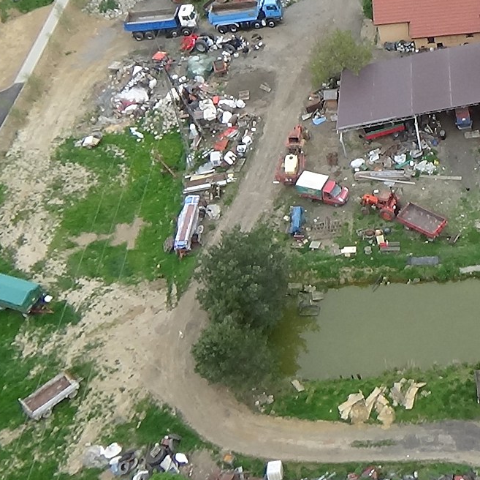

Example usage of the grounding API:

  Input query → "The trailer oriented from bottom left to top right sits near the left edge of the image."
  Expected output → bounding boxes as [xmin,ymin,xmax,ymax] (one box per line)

[18,369,89,421]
